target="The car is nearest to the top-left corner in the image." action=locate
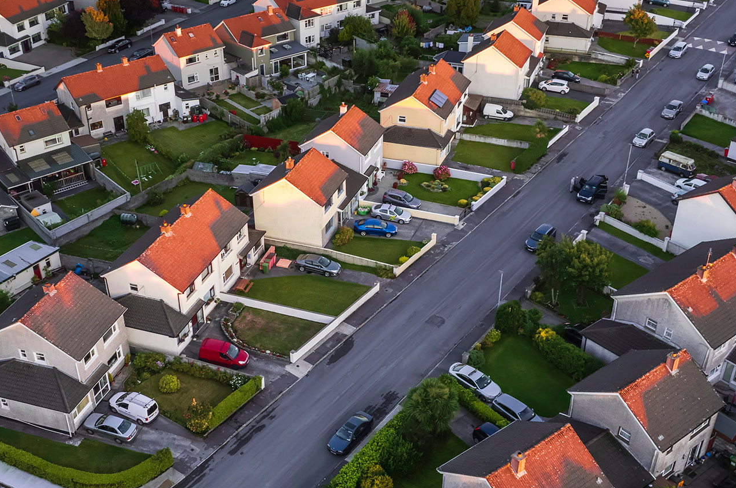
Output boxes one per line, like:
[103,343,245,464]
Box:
[14,74,42,91]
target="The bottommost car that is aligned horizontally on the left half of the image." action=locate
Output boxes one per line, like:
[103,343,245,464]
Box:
[83,412,141,444]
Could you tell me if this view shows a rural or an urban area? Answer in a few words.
urban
